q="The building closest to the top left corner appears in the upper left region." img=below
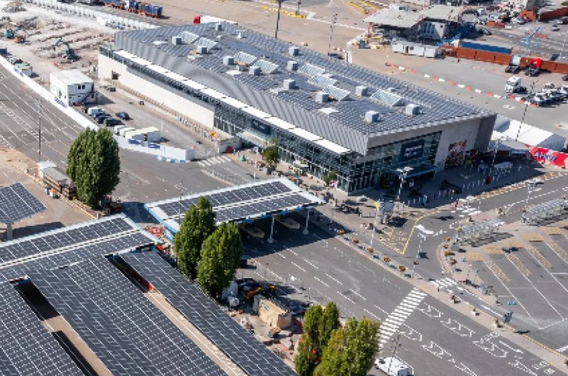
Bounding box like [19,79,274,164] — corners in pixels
[39,68,98,107]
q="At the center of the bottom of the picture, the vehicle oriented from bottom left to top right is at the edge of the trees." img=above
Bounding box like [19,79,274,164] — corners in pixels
[241,257,276,292]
